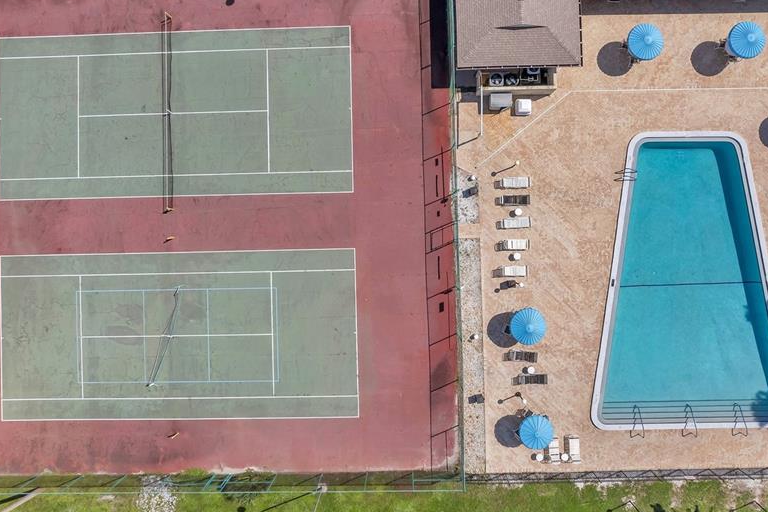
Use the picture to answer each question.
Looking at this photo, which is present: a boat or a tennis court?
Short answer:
tennis court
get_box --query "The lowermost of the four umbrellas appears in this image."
[519,416,553,450]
